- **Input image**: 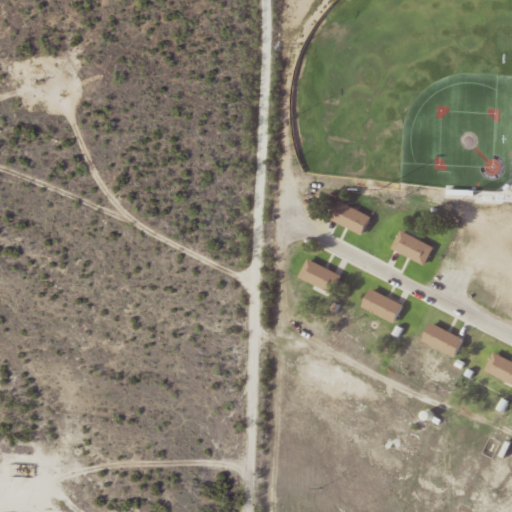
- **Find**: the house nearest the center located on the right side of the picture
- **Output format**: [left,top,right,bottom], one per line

[298,258,340,294]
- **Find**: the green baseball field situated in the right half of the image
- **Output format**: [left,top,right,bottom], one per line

[292,0,512,191]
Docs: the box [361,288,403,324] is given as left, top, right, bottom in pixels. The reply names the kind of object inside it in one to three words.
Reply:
house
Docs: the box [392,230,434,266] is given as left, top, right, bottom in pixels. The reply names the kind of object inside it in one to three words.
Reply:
house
